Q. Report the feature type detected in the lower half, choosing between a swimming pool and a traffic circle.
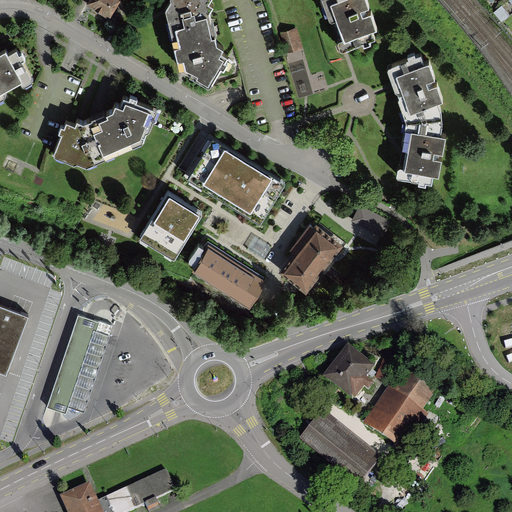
traffic circle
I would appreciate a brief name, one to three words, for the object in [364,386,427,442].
house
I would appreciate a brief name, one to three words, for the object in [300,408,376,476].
barn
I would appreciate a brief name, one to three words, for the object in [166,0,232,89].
building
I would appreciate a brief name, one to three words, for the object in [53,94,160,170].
building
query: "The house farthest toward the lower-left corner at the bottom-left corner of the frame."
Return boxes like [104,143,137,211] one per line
[60,482,102,512]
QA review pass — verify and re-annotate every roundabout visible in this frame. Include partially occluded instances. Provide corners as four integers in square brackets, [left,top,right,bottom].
[178,344,252,418]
